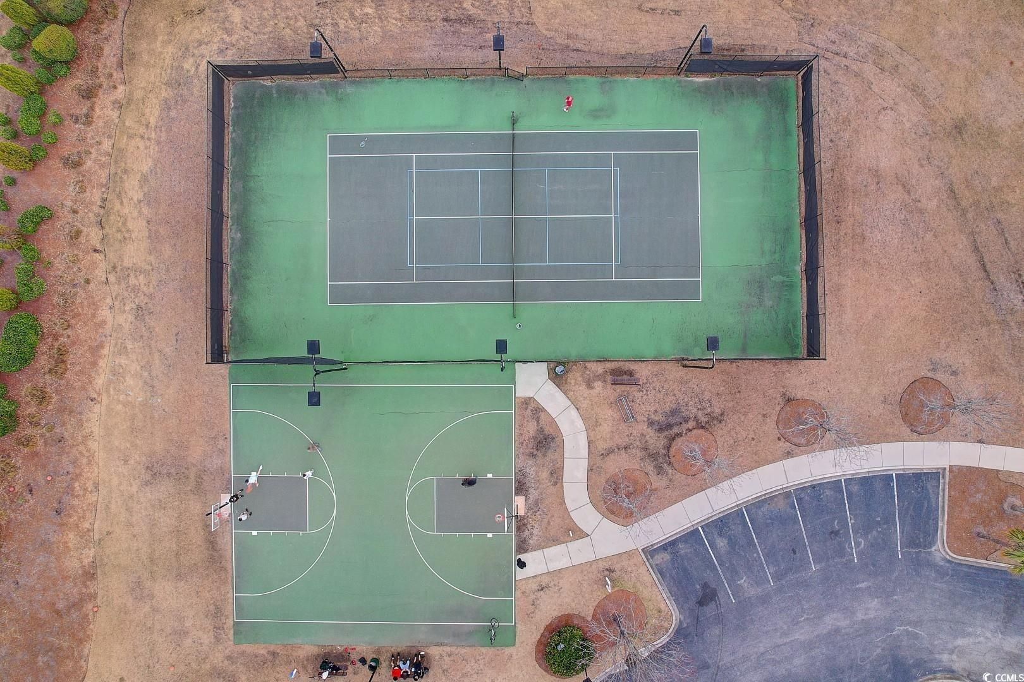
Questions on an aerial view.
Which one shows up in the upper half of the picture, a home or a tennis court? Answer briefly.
tennis court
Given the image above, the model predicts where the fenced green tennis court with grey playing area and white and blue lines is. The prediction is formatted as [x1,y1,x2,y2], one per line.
[229,75,802,361]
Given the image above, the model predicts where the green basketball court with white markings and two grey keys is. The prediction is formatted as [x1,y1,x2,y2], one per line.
[229,362,516,647]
